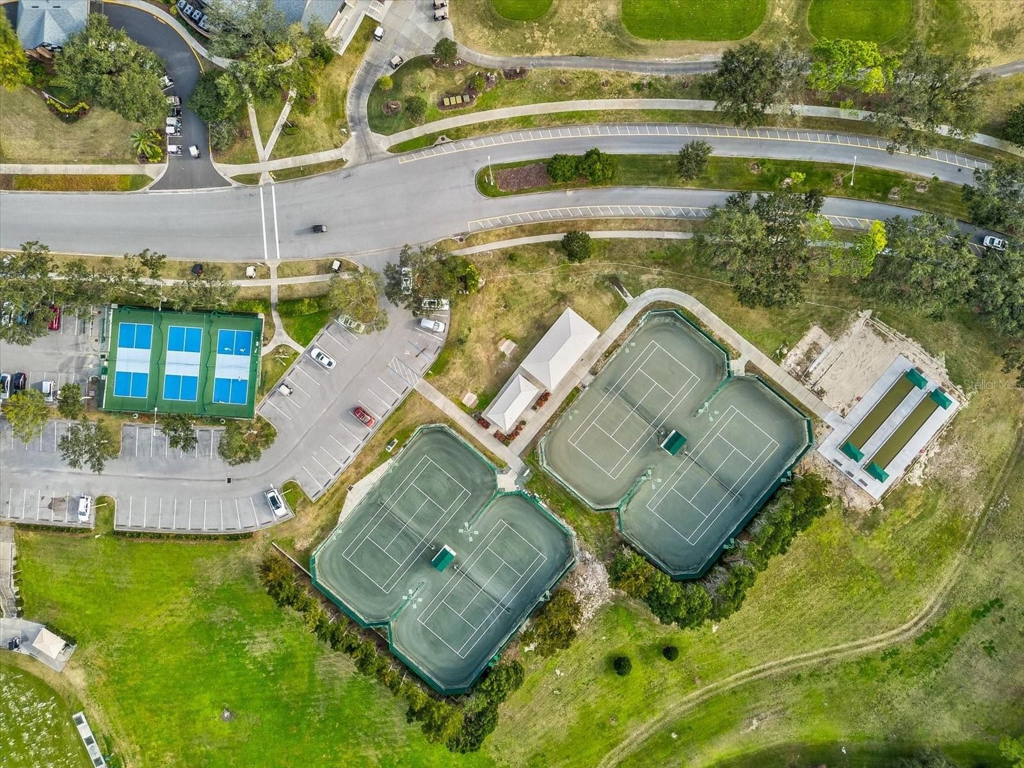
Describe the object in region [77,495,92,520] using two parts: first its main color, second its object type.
white car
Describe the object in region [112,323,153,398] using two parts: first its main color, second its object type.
blue sports court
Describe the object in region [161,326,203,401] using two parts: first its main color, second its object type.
blue sports court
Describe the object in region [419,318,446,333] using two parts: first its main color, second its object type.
white car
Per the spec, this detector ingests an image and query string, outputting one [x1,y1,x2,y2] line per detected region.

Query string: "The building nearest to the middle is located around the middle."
[486,374,539,431]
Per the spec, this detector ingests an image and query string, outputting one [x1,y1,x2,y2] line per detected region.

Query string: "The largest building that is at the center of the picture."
[520,307,600,391]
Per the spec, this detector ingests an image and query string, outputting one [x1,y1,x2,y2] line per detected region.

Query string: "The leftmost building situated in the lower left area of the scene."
[32,624,73,659]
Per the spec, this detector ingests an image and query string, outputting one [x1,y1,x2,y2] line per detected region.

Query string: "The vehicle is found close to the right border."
[980,236,1008,251]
